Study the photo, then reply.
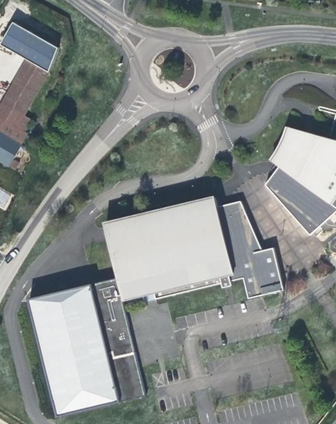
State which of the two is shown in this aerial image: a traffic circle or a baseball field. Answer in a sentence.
Of the two, only a traffic circle appears.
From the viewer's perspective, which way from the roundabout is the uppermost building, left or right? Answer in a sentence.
Looking at the photo, the uppermost building lies to the left of the roundabout.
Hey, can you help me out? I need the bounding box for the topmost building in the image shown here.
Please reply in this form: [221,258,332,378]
[2,24,60,71]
